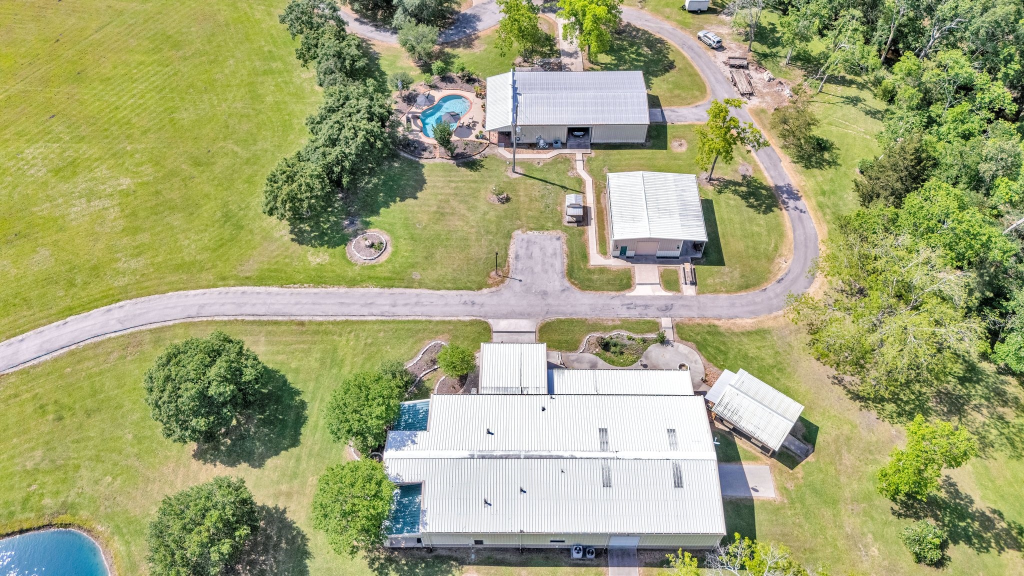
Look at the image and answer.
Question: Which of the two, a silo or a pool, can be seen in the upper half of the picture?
pool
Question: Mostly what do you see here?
grass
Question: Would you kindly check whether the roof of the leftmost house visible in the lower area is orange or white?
white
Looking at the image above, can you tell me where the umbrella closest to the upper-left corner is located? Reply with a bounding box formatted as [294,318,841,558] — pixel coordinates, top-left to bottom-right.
[417,84,435,106]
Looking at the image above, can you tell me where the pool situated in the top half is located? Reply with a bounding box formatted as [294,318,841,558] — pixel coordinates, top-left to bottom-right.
[418,92,477,140]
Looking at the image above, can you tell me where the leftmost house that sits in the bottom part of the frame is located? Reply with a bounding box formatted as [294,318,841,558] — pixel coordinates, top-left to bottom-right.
[382,342,727,555]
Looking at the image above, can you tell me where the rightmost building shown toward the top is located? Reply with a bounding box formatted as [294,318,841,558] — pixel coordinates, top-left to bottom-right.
[603,166,709,258]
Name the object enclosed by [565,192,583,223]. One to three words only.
shed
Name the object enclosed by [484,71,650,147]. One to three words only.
building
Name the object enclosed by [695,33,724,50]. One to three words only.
car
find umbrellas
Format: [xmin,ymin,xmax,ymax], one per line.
[443,108,462,125]
[417,84,435,106]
